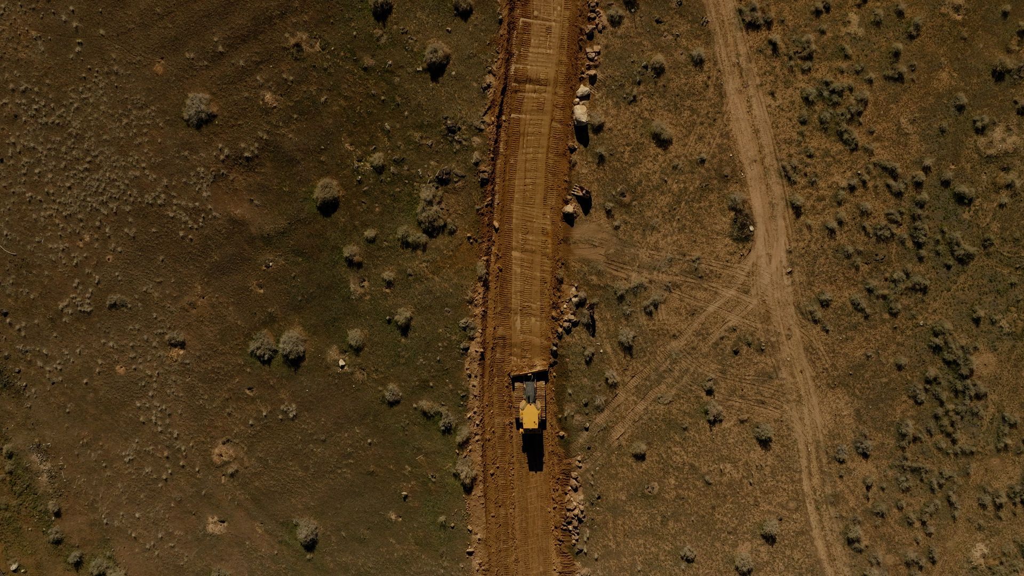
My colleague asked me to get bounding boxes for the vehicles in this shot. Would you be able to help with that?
[510,365,548,433]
